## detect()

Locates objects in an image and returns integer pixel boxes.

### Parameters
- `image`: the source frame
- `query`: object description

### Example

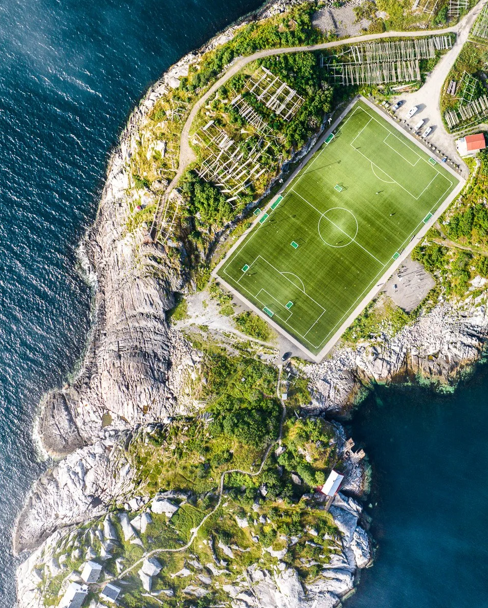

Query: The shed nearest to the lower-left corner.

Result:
[61,585,87,608]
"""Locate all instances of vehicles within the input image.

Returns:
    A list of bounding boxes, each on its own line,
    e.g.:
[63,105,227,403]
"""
[414,119,425,131]
[406,104,418,118]
[394,101,402,110]
[282,352,289,361]
[422,126,432,138]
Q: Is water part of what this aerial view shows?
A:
Yes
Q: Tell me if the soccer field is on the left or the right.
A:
right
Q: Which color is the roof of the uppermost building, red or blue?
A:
red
